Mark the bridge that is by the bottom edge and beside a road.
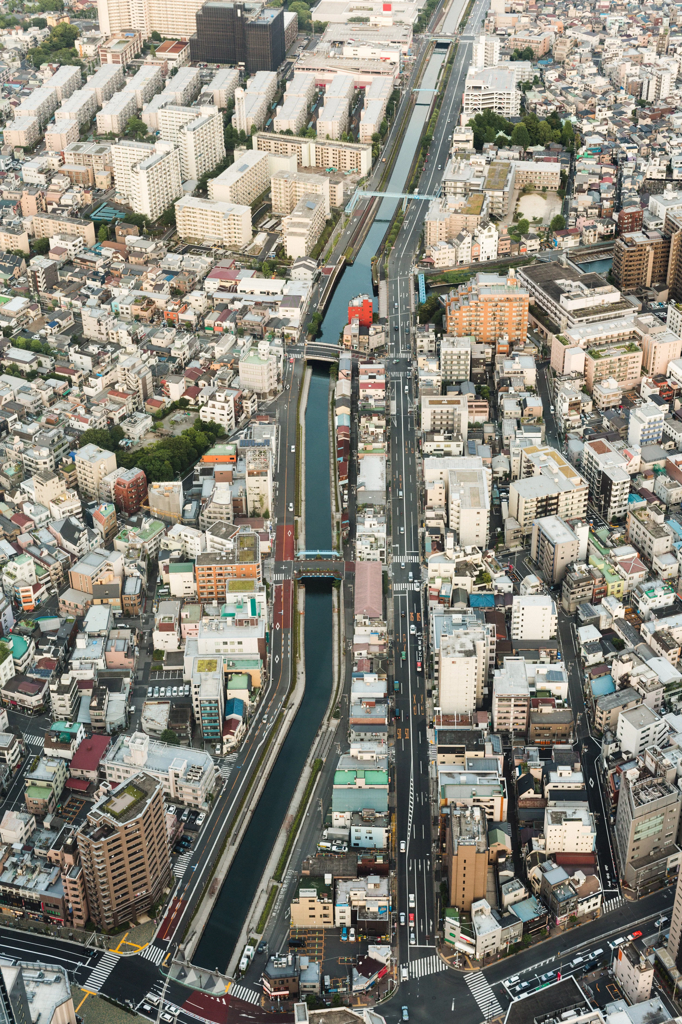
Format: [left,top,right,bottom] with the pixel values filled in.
[164,960,234,994]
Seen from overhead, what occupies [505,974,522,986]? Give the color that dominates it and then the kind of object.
white vehicle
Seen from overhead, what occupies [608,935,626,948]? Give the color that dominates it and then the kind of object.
white vehicle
